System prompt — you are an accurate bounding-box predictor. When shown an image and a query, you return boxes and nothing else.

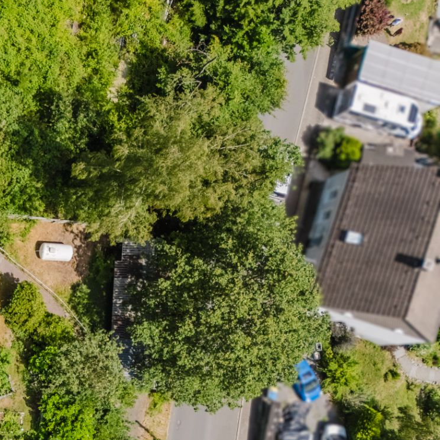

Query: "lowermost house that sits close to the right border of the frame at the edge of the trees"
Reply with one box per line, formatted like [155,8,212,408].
[296,164,440,340]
